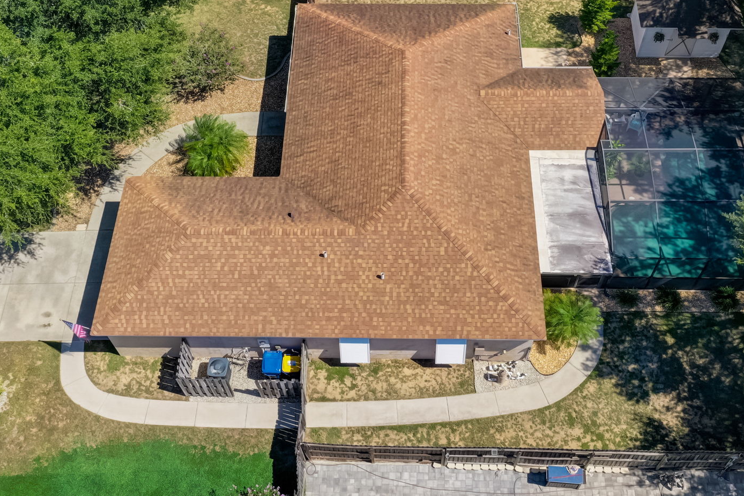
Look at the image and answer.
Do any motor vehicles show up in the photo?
No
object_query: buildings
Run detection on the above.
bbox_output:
[628,0,743,57]
[90,1,615,365]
